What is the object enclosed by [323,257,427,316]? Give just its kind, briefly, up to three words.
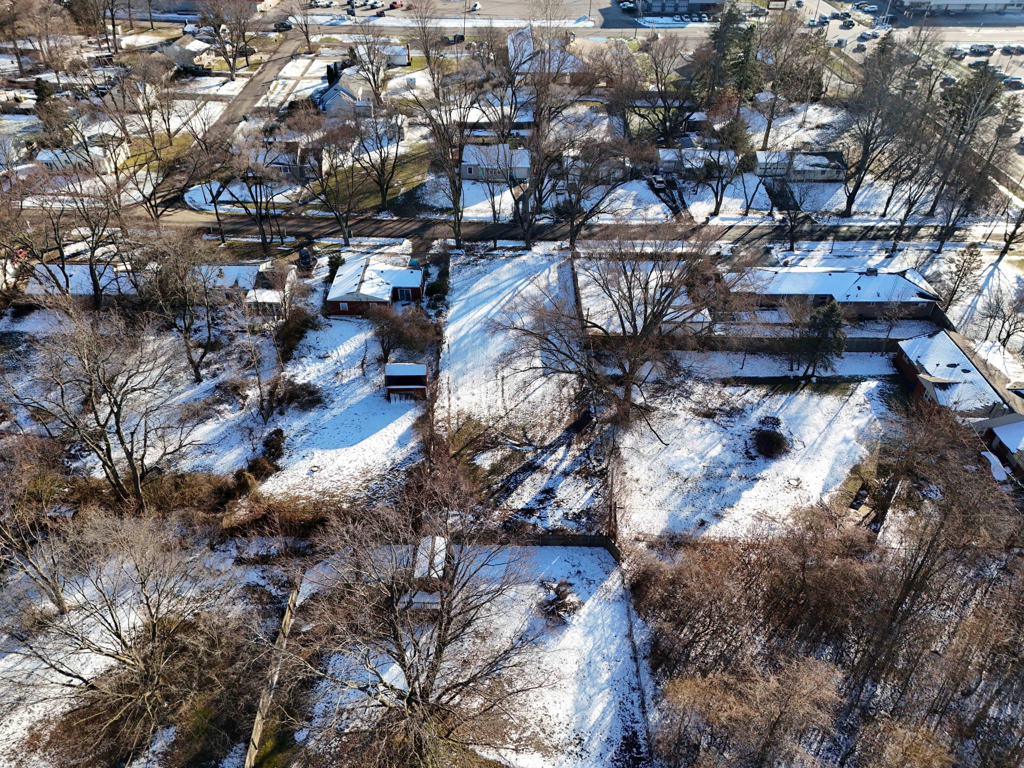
house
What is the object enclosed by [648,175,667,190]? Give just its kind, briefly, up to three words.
car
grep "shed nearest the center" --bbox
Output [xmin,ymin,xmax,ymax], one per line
[383,356,428,405]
